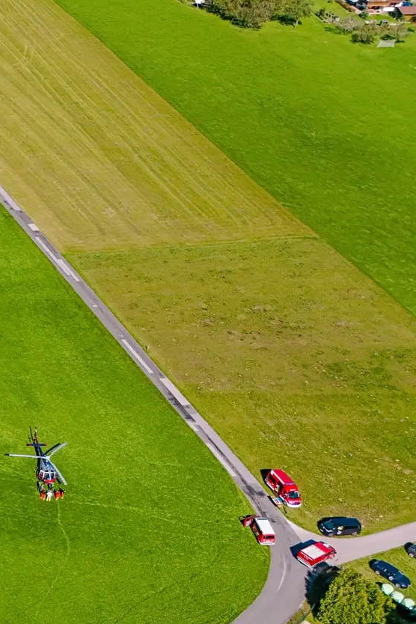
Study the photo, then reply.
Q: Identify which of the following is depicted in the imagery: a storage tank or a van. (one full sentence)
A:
Of the two, only a van appears.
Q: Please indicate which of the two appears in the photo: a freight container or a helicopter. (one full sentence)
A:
There is a helicopter in the scene.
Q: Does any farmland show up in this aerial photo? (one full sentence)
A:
Yes, farmland can be seen from above here.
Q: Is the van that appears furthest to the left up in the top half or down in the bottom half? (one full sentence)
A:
The van that appears furthest to the left is in the bottom half of the image.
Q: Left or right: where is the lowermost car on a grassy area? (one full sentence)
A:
The lowermost car on a grassy area is on the right side of the image.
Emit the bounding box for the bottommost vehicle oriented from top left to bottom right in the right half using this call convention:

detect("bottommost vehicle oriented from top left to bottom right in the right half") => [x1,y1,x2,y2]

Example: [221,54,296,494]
[371,557,412,588]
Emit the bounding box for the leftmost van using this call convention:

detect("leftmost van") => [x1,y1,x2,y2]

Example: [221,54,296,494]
[238,513,279,550]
